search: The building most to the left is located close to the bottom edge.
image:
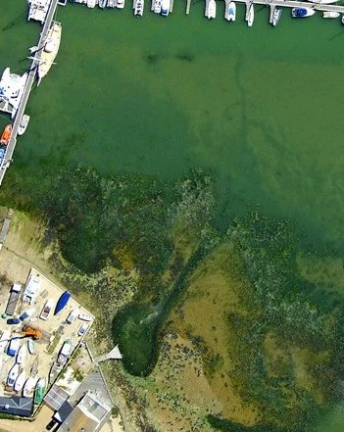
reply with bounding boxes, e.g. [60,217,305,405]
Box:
[0,394,36,416]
